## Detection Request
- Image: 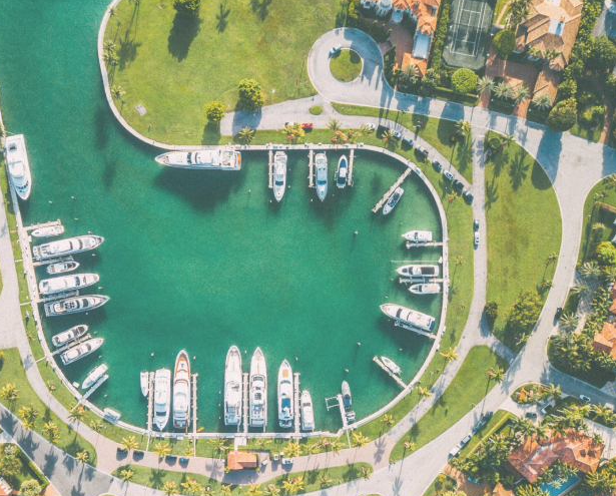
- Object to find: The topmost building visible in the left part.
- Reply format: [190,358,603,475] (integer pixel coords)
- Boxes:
[227,449,257,470]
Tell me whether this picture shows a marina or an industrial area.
marina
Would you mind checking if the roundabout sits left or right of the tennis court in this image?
on its left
